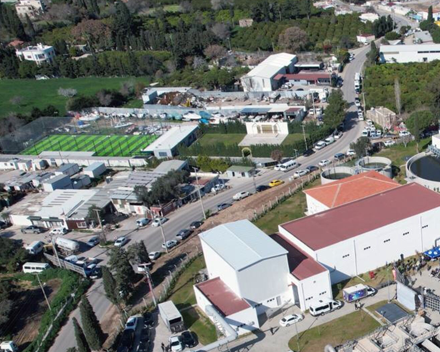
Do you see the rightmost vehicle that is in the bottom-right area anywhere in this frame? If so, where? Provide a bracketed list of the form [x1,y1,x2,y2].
[342,281,377,303]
